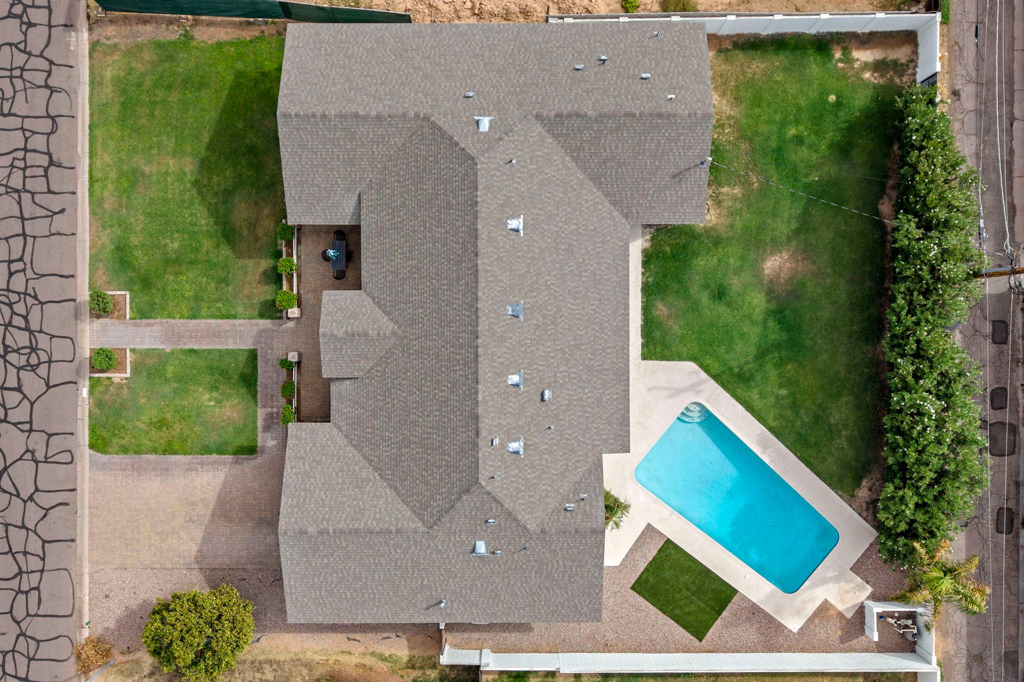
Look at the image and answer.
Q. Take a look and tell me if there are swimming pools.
Yes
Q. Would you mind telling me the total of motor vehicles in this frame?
0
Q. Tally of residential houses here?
1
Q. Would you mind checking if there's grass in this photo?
Yes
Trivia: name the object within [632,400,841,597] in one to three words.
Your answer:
swimming pool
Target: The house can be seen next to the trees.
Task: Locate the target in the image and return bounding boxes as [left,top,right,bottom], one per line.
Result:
[277,22,714,623]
